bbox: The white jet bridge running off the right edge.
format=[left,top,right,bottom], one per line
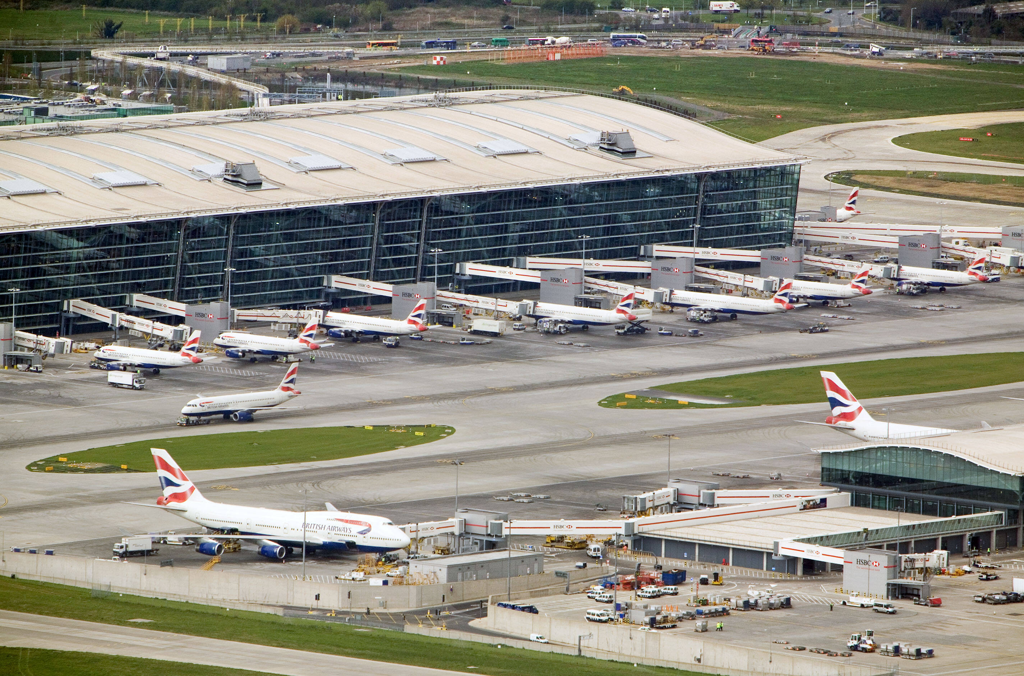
[937,241,1024,281]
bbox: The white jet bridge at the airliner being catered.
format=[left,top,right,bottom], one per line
[429,291,541,325]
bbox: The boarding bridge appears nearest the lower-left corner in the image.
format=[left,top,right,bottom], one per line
[10,332,73,364]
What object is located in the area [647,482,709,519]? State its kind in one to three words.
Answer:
building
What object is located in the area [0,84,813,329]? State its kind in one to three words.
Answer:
building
